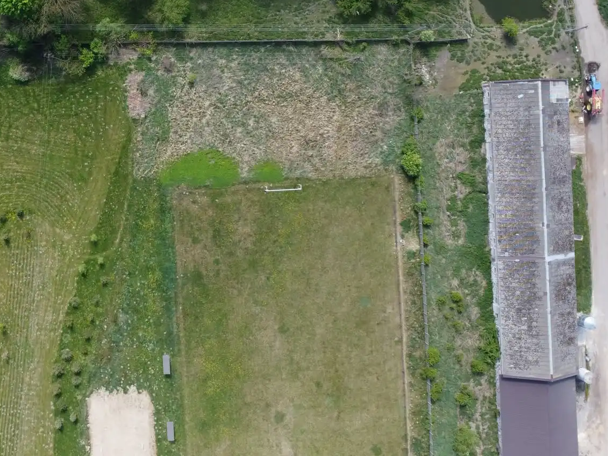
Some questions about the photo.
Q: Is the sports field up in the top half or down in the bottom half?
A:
bottom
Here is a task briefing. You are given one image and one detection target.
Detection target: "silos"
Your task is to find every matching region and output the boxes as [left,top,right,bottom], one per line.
[578,371,595,384]
[577,318,596,333]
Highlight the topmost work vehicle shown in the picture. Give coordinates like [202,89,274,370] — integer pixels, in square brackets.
[586,73,603,92]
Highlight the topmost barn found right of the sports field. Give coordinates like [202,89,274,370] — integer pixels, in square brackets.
[483,79,579,382]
